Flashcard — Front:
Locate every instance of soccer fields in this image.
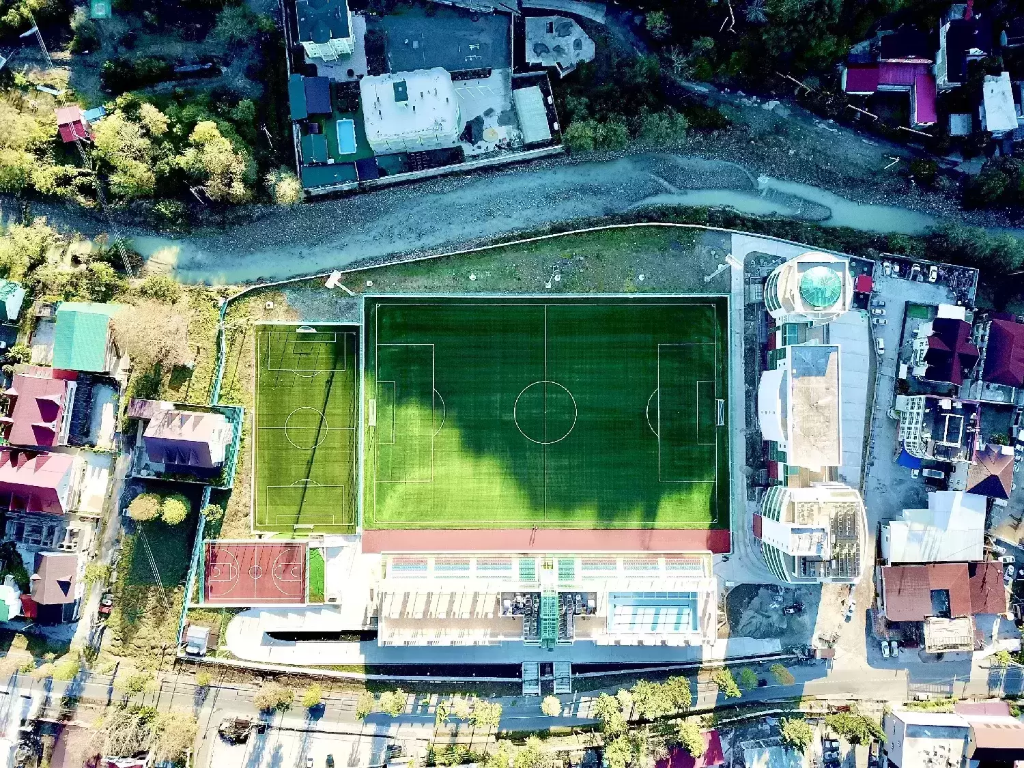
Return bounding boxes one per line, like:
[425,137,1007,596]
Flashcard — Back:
[253,324,360,533]
[362,297,730,529]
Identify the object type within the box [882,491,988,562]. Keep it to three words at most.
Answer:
building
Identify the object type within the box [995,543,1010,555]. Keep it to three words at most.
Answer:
vehicle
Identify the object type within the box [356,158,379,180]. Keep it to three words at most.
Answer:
shed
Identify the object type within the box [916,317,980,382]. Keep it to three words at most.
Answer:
house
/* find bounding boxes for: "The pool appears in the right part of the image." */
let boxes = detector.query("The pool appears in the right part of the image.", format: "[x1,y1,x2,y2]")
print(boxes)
[608,592,698,634]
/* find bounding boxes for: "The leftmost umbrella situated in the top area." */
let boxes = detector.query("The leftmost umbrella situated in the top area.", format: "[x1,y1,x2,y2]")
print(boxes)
[483,125,497,139]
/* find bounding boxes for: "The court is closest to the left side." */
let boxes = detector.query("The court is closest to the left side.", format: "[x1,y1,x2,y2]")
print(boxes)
[203,543,306,604]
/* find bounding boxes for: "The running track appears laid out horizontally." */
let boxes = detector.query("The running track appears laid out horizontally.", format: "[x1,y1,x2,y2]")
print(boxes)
[362,530,730,552]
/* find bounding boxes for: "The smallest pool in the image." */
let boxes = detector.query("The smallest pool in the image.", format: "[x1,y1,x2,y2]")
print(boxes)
[336,119,357,154]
